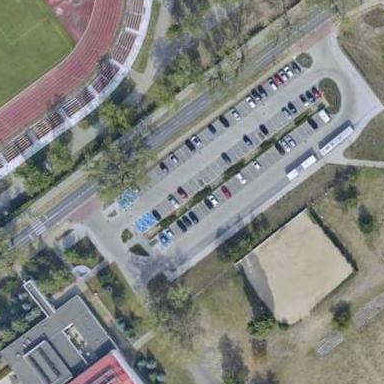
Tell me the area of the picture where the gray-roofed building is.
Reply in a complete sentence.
You can find the gray-roofed building in the bottom left area of the picture.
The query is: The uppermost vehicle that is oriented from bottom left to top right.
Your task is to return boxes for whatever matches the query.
[319,126,356,157]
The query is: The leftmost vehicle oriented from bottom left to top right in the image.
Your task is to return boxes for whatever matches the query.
[286,155,316,181]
